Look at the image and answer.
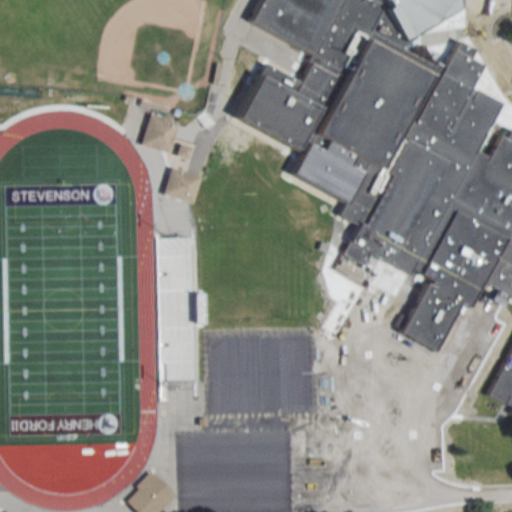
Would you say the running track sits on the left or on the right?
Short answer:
left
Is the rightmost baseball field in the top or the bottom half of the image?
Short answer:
top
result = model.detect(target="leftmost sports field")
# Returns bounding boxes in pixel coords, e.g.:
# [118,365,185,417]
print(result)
[0,129,140,493]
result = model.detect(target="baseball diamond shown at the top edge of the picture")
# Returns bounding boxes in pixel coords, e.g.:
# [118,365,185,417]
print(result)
[98,0,222,124]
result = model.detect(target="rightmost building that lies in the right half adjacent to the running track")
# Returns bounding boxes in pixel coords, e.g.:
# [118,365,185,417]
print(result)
[239,0,512,352]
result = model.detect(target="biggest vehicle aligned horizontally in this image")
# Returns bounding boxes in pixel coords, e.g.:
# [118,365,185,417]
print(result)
[344,416,372,428]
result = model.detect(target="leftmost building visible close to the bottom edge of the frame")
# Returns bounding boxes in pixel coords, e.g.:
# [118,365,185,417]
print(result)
[128,474,176,512]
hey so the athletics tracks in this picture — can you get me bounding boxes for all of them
[0,112,158,511]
